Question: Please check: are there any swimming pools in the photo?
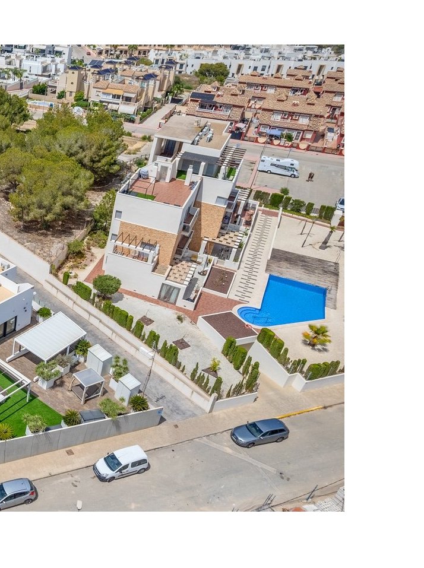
Yes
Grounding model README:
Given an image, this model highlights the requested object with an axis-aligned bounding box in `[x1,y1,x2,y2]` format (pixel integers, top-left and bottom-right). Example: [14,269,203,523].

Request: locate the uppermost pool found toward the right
[237,274,327,326]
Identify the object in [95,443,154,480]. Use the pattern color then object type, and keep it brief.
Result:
white car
